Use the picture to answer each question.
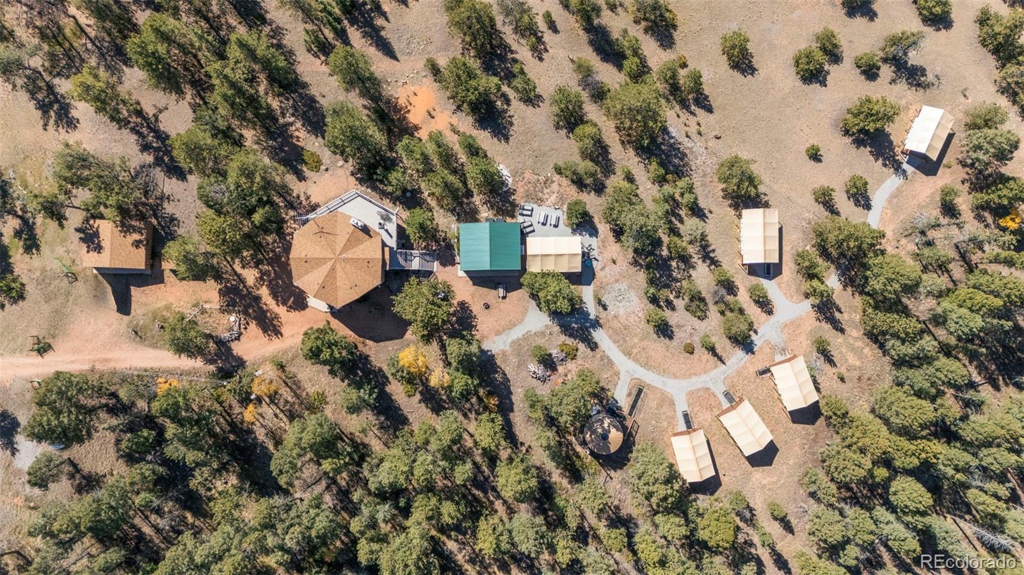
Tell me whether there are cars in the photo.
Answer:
No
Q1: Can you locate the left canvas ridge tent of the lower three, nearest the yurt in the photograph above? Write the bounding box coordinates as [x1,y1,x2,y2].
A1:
[670,413,716,483]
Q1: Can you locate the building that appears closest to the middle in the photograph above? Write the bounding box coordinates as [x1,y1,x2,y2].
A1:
[460,222,524,276]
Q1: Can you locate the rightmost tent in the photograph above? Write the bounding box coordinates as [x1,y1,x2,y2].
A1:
[892,105,954,166]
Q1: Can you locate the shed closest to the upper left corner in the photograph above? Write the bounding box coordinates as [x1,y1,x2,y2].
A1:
[84,219,152,268]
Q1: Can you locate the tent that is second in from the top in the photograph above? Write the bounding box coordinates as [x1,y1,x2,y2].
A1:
[733,208,779,276]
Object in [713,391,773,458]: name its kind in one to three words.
tent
